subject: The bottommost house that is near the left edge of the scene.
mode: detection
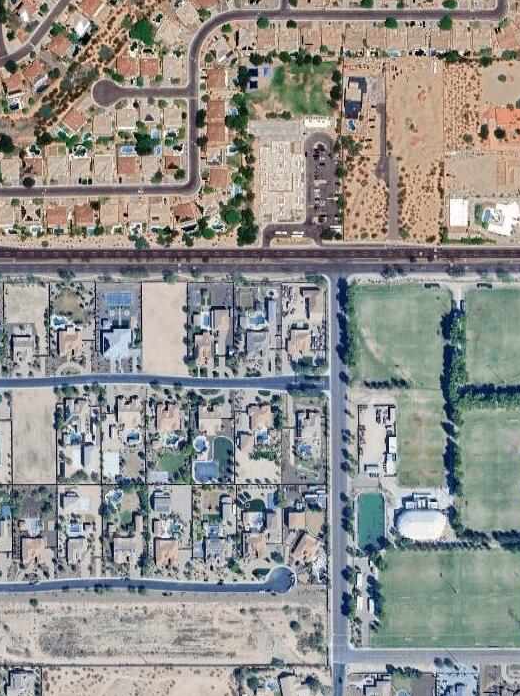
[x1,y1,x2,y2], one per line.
[12,669,35,696]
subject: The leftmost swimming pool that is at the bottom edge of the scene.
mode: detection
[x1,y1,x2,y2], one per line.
[262,676,280,690]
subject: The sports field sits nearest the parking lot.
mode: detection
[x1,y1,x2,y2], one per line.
[347,283,453,389]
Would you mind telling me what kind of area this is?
residential area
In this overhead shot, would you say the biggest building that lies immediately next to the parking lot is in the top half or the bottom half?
top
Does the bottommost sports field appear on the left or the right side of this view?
right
